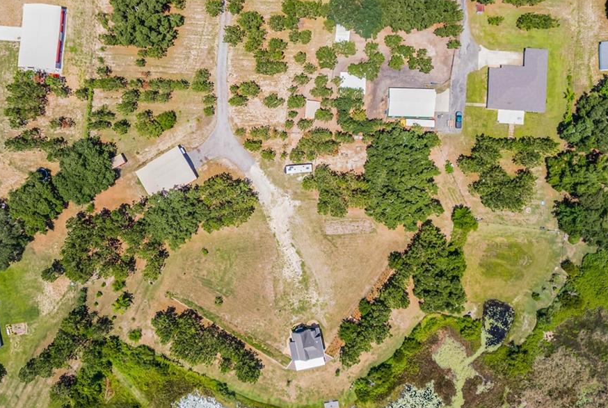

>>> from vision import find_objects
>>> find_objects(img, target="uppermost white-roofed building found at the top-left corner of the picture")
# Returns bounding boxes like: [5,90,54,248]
[18,3,66,73]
